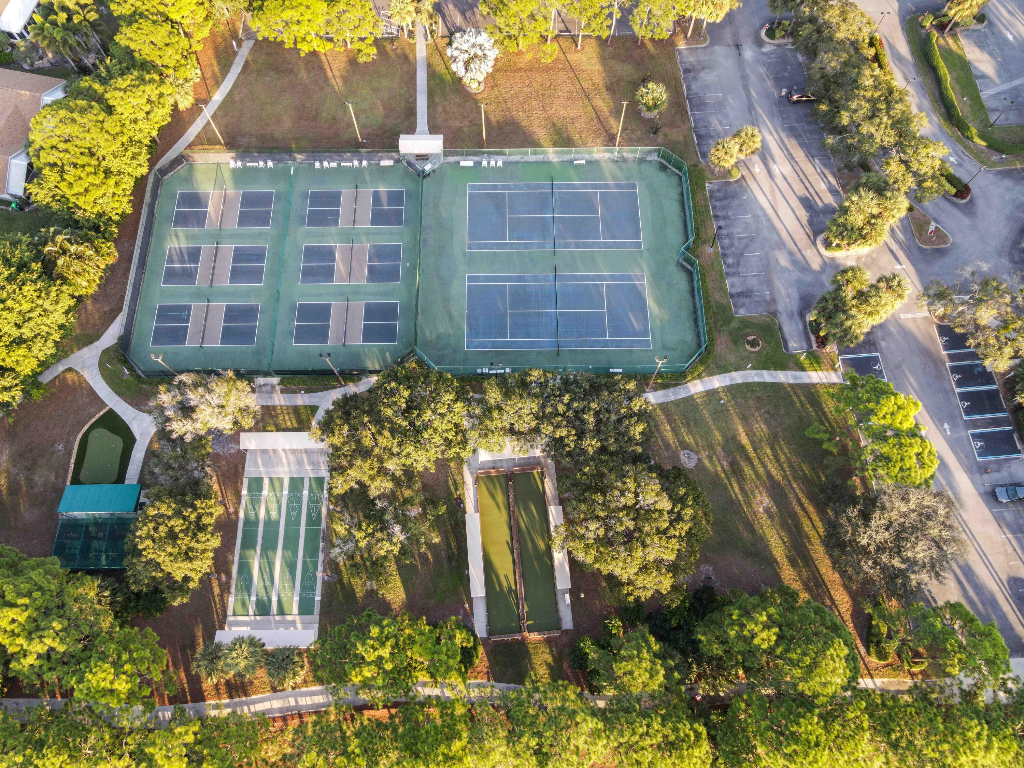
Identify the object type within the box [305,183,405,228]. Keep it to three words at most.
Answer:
sports court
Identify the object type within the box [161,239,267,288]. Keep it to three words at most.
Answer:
sports court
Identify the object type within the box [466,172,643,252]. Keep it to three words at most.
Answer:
tennis court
